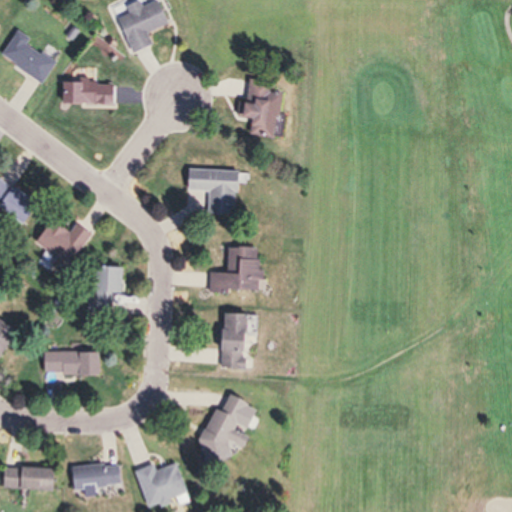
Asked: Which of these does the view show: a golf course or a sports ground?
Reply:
golf course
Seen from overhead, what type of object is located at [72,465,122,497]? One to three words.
house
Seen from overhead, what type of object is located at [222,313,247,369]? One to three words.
house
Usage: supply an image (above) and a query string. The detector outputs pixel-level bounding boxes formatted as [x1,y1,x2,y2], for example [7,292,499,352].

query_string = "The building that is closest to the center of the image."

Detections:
[209,248,265,292]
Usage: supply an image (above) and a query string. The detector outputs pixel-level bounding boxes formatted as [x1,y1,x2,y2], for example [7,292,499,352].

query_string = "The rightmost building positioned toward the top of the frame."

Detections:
[244,78,286,138]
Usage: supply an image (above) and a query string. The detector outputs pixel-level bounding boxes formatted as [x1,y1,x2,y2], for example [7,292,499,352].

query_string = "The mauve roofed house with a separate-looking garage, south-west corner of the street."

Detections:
[4,468,54,491]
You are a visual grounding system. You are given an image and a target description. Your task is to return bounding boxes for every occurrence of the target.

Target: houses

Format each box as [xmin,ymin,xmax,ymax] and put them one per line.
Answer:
[62,67,112,104]
[72,465,122,497]
[244,78,286,138]
[188,168,250,213]
[37,223,90,253]
[44,352,101,376]
[4,468,54,491]
[117,0,168,51]
[196,395,259,460]
[139,462,190,510]
[222,313,247,369]
[2,30,55,82]
[0,176,34,218]
[209,248,265,292]
[96,265,124,298]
